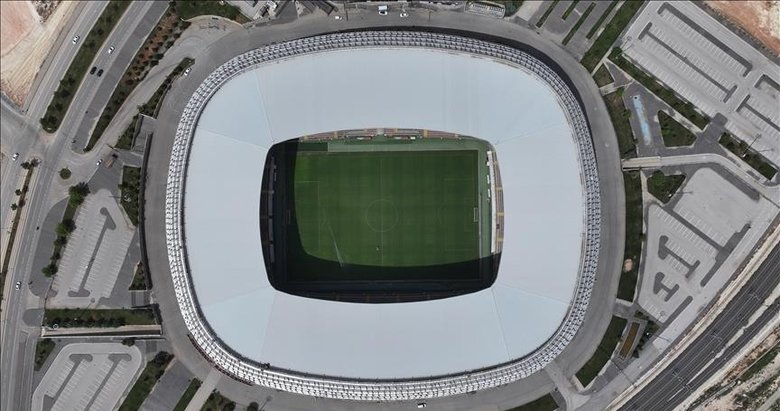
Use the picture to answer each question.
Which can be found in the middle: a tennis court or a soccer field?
soccer field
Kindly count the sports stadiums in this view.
one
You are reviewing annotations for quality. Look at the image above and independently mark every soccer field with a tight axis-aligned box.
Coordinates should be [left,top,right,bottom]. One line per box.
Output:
[265,133,498,297]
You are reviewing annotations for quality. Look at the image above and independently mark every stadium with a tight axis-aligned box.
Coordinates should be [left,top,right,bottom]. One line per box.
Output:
[167,31,599,401]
